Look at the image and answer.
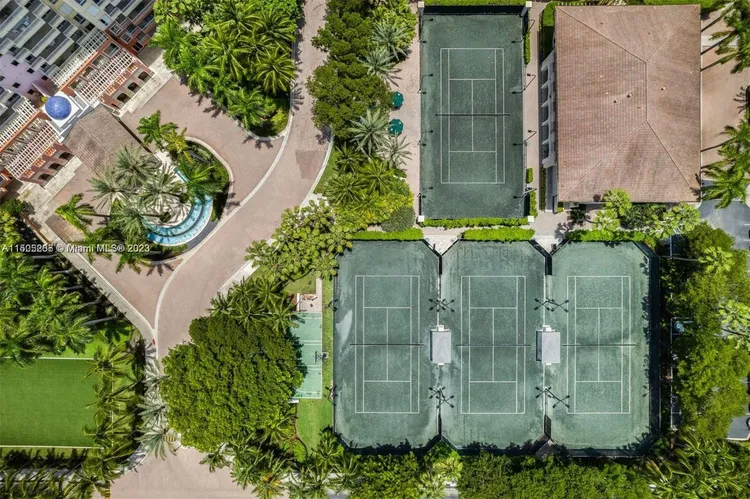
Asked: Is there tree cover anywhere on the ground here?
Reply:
Yes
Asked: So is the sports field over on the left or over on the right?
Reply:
left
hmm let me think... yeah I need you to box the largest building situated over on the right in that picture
[549,5,701,204]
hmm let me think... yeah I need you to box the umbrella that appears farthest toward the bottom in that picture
[389,119,404,135]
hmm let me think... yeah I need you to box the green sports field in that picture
[0,358,112,448]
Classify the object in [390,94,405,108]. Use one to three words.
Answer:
umbrella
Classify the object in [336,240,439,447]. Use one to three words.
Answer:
tennis court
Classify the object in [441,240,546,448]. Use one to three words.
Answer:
tennis court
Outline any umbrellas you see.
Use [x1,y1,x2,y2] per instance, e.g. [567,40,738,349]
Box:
[389,119,404,135]
[390,94,405,108]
